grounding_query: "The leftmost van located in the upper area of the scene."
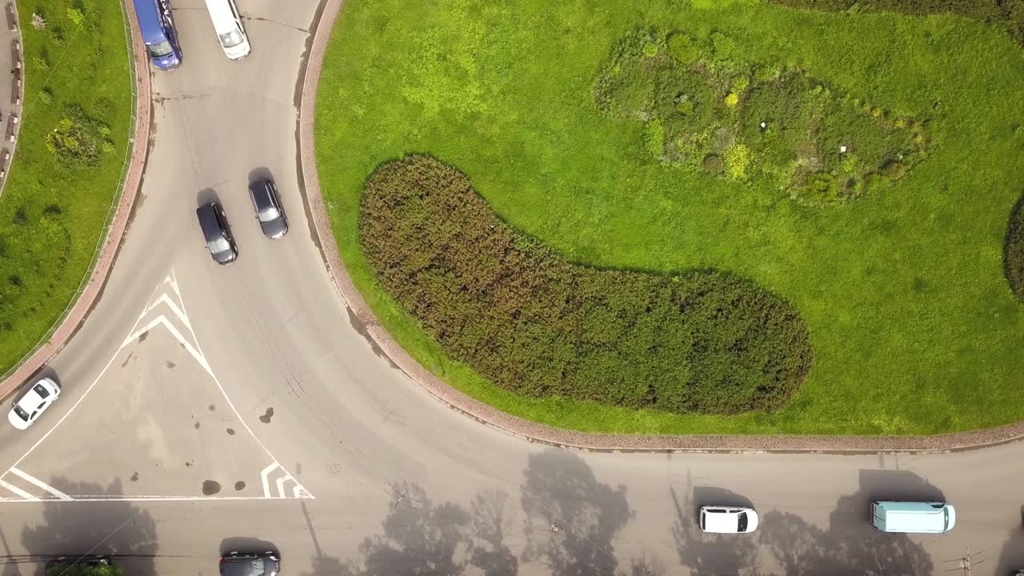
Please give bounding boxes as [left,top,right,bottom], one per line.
[130,0,182,72]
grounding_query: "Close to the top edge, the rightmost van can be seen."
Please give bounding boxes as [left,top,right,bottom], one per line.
[203,0,250,62]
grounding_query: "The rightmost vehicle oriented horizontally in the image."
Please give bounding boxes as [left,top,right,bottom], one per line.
[869,499,954,534]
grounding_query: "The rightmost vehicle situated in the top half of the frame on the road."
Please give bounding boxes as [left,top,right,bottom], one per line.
[251,180,289,241]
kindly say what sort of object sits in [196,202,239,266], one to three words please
car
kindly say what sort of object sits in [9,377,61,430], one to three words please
car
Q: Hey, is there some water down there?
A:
No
